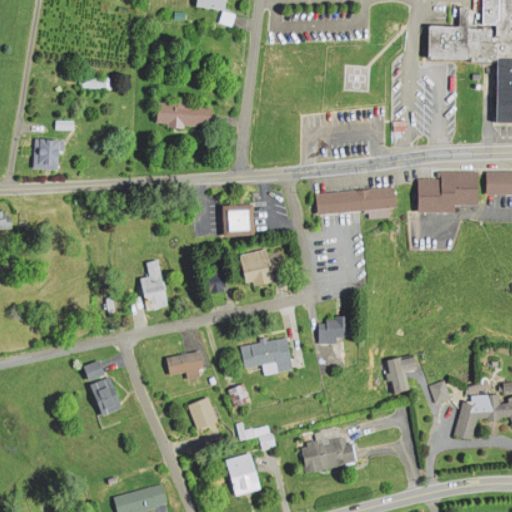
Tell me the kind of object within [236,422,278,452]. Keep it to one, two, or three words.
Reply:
house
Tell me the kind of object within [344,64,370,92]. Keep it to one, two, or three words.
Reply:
helipad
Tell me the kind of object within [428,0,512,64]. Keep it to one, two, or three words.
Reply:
building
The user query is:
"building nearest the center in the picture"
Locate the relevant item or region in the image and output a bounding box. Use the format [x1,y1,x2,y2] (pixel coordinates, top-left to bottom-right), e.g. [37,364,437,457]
[240,250,272,286]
